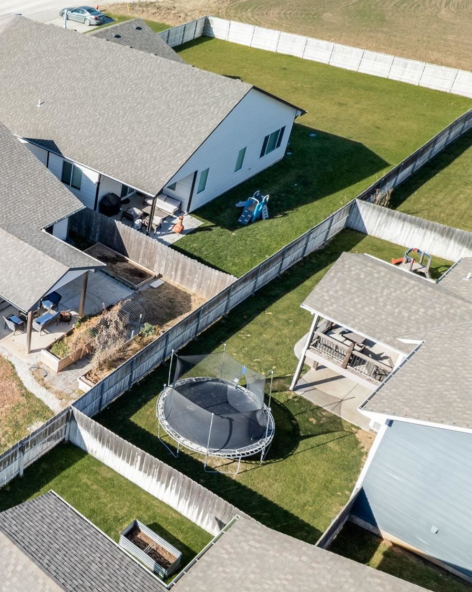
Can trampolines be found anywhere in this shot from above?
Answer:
Yes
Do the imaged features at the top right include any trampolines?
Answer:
No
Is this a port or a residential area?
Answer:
residential area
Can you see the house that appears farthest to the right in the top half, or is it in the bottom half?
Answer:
bottom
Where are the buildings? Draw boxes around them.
[0,488,411,592]
[286,251,472,575]
[0,7,307,232]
